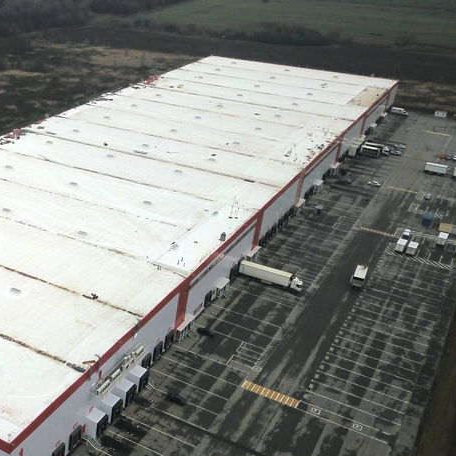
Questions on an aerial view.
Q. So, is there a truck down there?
Yes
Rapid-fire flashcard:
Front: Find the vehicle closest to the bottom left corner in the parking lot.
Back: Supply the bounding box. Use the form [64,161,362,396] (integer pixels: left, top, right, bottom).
[165,389,186,404]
